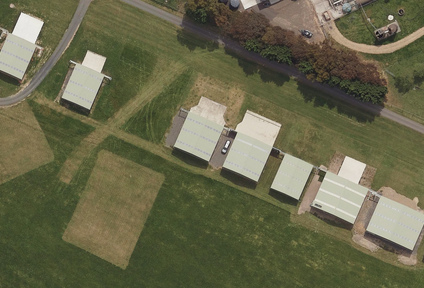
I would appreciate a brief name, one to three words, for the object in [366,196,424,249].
shed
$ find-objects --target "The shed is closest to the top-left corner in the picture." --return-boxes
[0,32,36,79]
